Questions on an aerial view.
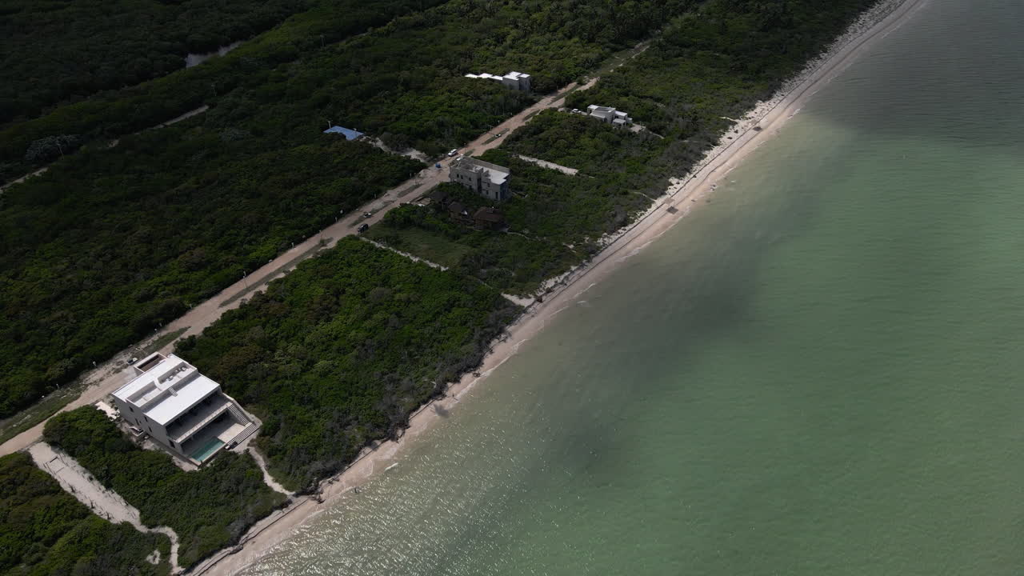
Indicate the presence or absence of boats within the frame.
No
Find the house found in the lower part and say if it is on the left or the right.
left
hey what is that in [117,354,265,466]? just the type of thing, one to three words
house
